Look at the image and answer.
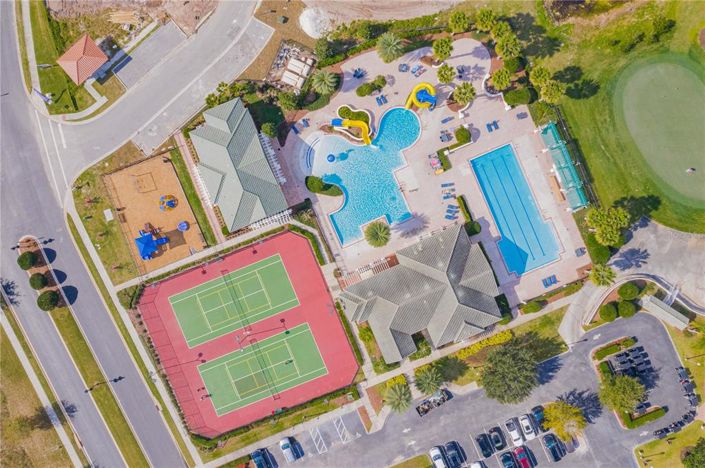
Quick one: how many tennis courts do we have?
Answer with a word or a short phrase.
2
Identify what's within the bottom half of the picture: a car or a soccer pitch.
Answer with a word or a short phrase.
car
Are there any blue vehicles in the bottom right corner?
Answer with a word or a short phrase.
Yes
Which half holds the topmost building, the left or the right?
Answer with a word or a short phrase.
left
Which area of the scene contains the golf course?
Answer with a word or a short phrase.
top right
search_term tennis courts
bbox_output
[167,301,360,437]
[139,231,335,368]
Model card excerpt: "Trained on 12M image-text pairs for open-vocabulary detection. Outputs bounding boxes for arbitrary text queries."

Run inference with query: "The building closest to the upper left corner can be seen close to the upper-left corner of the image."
[56,32,114,87]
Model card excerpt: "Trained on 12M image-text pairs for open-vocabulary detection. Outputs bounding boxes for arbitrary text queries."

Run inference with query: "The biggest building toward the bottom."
[339,224,502,363]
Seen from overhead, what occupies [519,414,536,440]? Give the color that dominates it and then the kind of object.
white car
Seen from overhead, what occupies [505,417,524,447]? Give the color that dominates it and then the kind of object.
white vehicle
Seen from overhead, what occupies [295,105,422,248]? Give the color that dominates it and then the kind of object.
blue swimming pool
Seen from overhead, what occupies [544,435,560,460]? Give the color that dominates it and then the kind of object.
blue car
